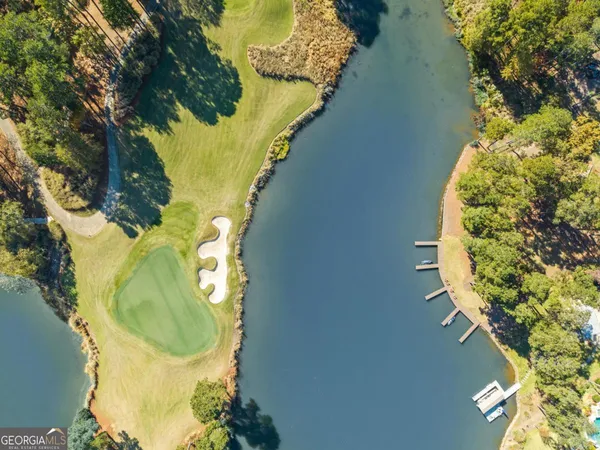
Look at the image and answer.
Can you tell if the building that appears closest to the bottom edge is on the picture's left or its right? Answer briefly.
right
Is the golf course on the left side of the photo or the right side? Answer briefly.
left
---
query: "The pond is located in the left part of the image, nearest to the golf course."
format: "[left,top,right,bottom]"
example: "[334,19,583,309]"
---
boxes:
[0,274,94,450]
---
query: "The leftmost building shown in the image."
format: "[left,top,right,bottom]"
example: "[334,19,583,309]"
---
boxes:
[471,379,509,415]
